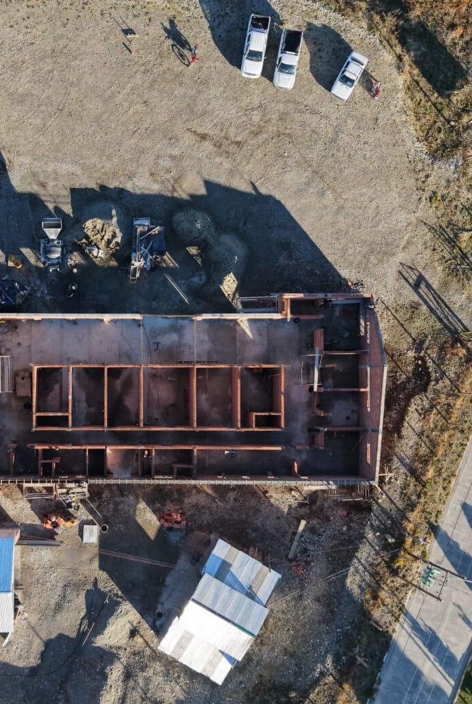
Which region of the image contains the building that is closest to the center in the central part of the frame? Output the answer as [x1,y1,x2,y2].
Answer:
[0,295,388,486]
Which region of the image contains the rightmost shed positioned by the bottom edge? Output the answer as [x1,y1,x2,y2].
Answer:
[159,536,280,685]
